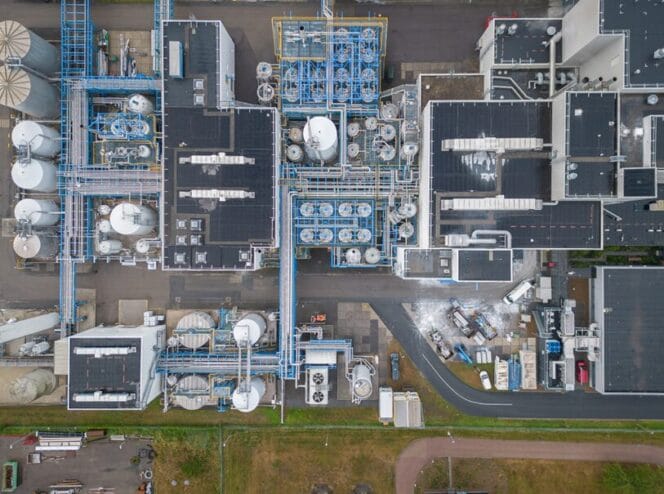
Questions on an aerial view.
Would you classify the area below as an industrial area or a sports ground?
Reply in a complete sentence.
This image shows an industrial area.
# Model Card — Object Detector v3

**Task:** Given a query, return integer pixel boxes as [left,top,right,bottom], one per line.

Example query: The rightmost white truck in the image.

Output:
[501,277,538,307]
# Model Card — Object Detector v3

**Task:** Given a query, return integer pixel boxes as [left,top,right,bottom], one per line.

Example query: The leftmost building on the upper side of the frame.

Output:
[163,21,282,270]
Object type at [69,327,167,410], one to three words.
building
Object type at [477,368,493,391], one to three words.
car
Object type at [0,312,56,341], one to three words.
silo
